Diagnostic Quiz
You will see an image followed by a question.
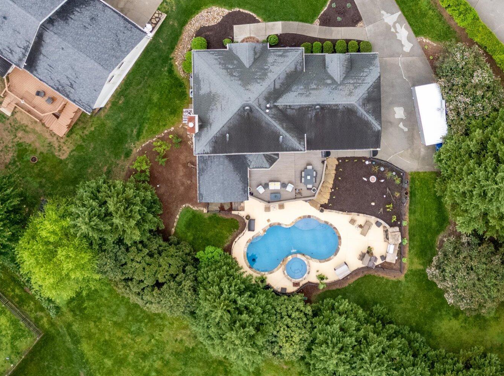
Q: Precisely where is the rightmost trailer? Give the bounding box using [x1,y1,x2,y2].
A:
[412,72,447,145]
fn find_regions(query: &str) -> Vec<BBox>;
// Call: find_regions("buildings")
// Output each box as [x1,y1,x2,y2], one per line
[187,42,382,203]
[0,0,153,114]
